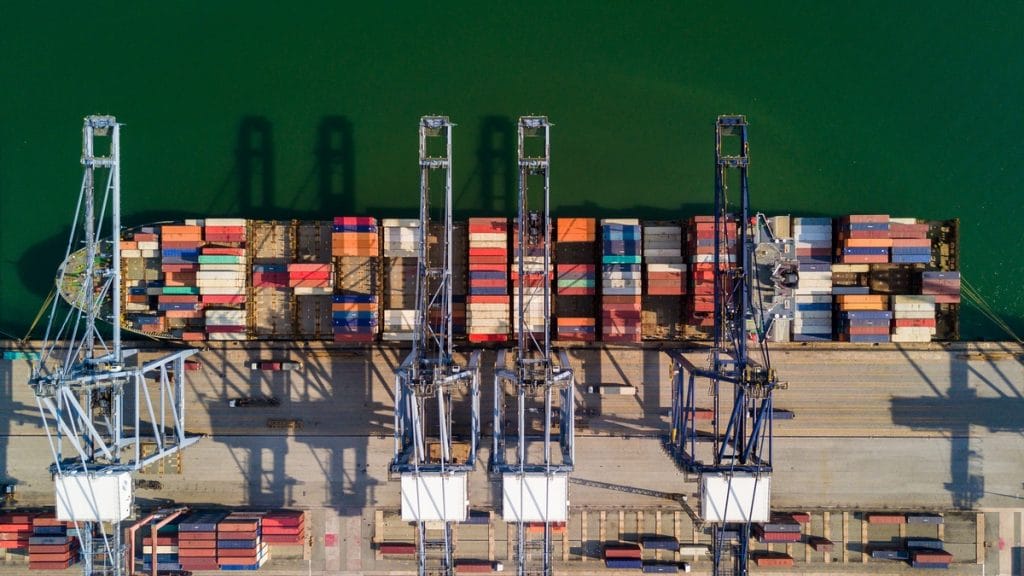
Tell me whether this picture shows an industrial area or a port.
port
